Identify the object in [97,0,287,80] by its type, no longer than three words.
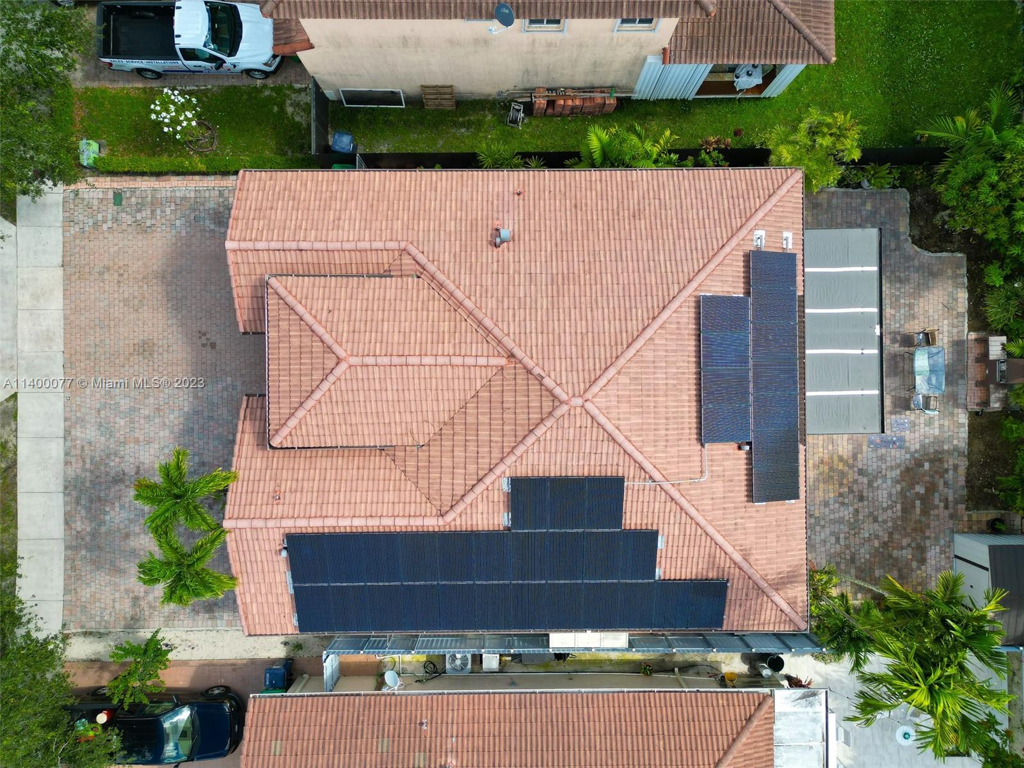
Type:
truck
